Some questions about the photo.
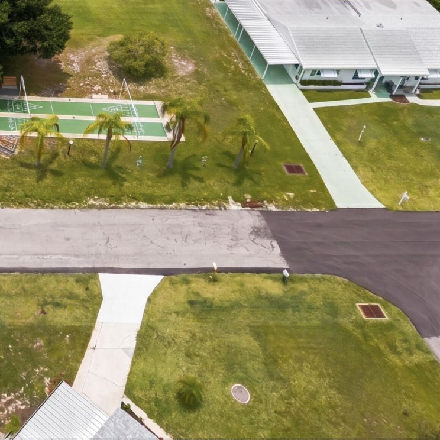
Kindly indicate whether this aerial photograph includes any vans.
No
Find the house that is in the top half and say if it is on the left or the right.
right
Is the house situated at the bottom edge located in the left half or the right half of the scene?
left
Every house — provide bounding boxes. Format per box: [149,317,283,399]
[215,0,440,94]
[11,379,155,440]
